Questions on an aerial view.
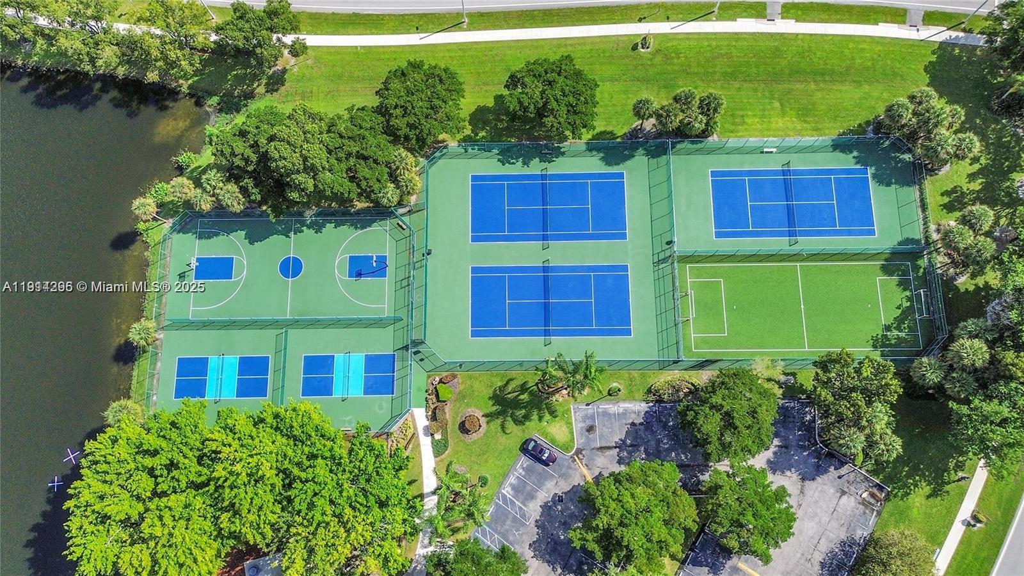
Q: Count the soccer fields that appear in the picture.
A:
one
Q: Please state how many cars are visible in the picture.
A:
one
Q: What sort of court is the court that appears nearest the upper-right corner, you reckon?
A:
tennis court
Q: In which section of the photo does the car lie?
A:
bottom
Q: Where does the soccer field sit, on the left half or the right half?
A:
right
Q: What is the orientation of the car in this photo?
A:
at an angle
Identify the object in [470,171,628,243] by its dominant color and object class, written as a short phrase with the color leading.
blue tennis court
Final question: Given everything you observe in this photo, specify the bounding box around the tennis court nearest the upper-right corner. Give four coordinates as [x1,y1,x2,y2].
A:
[711,168,877,239]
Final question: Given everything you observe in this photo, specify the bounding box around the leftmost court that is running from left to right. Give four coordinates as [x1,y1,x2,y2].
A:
[174,356,269,399]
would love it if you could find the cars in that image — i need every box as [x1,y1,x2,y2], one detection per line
[522,437,557,465]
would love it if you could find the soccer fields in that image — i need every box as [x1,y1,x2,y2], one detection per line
[678,254,935,360]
